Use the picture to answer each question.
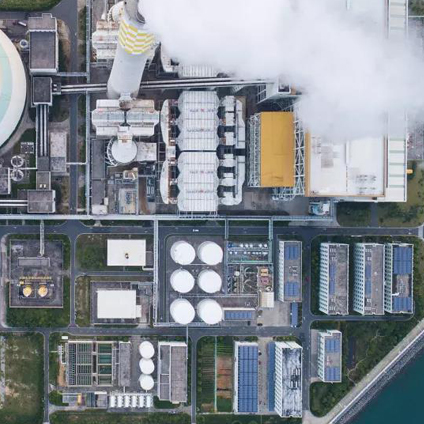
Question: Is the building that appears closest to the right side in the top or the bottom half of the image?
bottom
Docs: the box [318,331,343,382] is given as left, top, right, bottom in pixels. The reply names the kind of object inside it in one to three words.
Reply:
building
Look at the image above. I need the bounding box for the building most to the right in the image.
[385,241,413,313]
